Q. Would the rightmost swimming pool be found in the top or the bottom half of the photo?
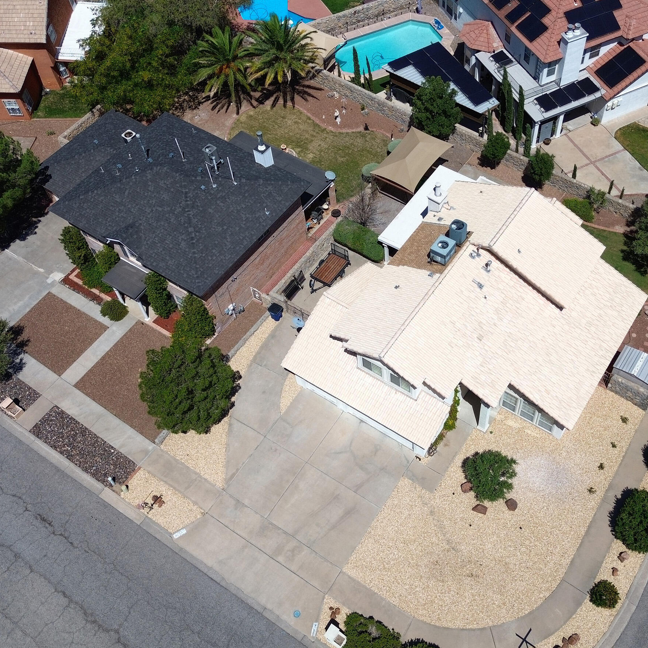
top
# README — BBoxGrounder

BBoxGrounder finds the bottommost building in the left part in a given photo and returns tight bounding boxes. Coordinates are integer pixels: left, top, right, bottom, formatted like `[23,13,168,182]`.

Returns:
[26,110,337,332]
